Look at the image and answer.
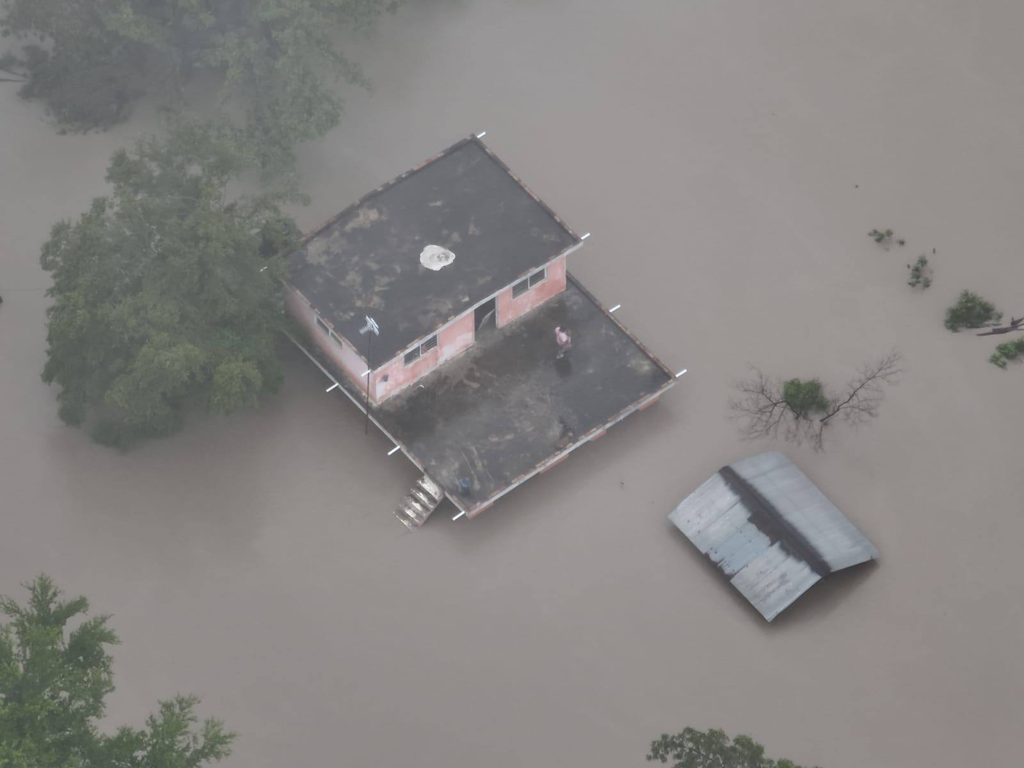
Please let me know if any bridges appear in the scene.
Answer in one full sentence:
No, there is no bridge in the image.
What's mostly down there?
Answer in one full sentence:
The scene is dominated by water.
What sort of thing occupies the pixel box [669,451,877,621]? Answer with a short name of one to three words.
shed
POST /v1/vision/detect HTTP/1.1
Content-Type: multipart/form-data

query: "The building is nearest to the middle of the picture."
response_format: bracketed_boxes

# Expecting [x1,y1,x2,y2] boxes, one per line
[270,131,686,534]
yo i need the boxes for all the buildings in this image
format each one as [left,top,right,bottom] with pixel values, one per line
[669,451,877,621]
[270,131,686,534]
